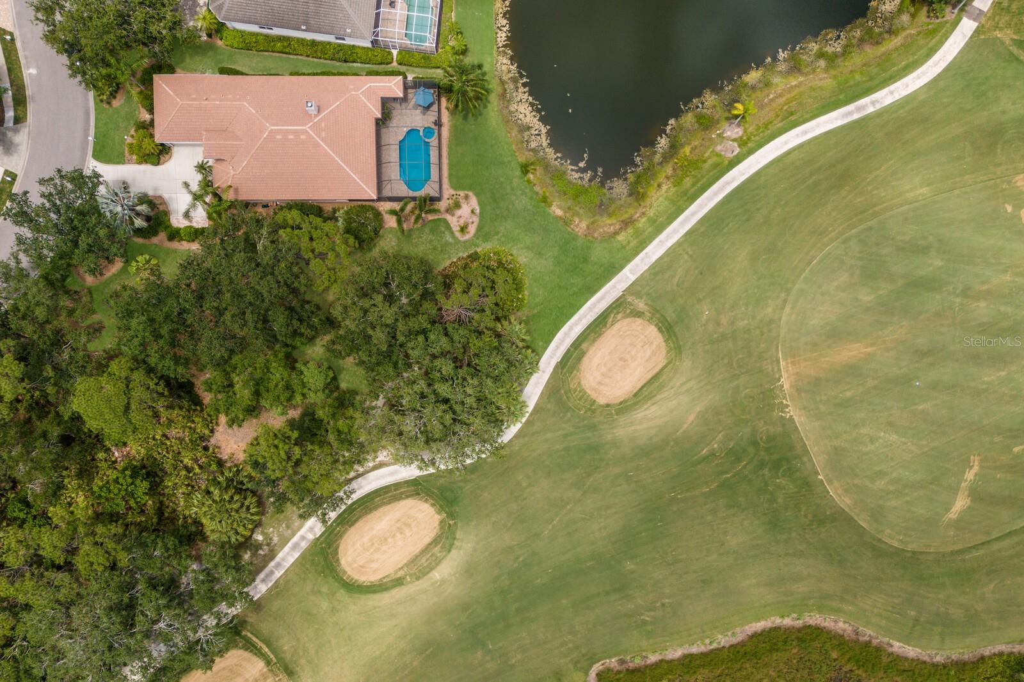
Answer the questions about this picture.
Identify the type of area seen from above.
golf course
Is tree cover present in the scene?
Yes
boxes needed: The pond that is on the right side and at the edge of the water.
[496,0,884,189]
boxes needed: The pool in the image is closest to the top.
[403,0,435,44]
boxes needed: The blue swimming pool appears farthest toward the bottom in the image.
[396,125,437,194]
